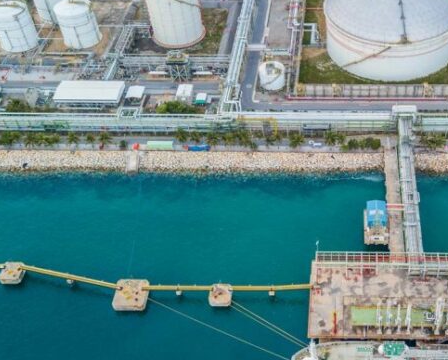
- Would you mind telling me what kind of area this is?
industrial area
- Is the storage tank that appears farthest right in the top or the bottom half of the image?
top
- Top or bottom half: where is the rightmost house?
top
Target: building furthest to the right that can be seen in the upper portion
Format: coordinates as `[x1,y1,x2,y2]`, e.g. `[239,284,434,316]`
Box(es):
[390,105,418,132]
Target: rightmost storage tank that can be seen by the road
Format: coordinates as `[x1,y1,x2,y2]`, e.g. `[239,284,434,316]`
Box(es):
[324,0,448,82]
